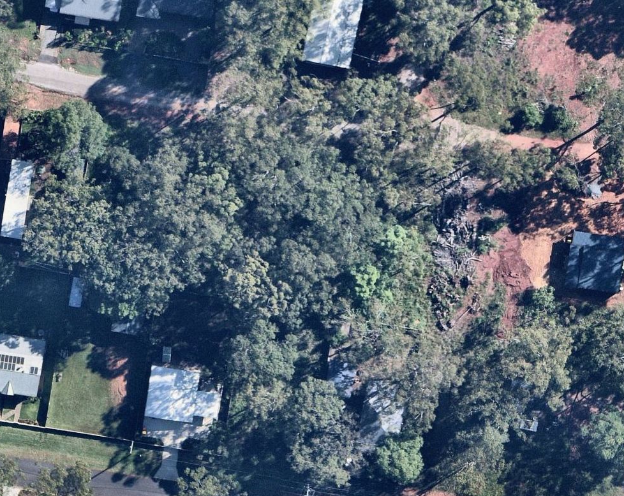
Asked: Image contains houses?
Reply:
Yes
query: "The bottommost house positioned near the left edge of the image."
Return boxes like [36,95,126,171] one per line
[0,333,47,397]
